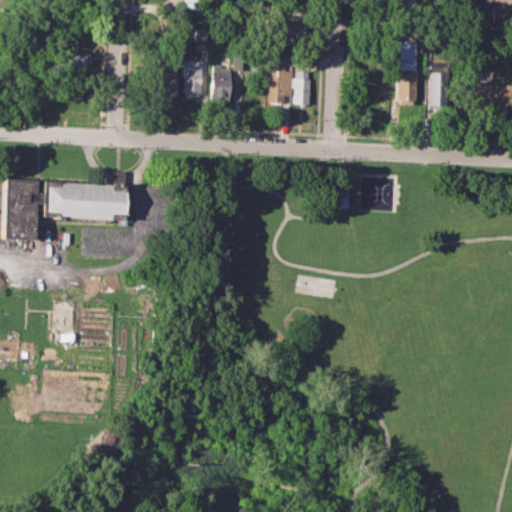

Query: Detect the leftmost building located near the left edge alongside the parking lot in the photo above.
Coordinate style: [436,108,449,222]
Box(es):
[4,180,39,240]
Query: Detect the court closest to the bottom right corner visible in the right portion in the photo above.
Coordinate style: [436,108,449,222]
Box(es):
[296,275,336,299]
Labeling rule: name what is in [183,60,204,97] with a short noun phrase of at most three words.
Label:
house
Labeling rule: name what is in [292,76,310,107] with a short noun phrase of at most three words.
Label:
house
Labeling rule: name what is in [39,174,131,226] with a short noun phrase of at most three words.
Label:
building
